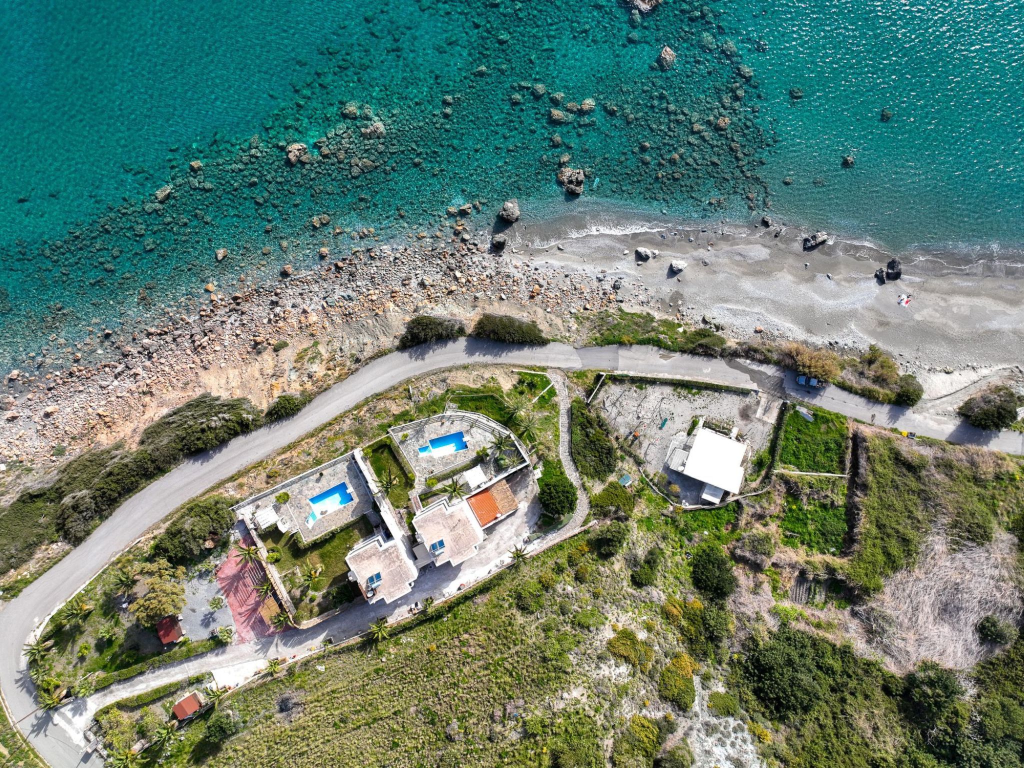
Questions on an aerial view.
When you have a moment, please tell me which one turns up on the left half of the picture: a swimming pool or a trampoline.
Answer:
swimming pool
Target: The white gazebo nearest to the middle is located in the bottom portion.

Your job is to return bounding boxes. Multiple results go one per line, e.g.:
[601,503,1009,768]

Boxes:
[463,464,488,490]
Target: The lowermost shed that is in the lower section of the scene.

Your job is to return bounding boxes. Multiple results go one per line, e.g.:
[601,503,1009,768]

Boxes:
[173,691,201,720]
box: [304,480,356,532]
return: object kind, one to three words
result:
swimming pool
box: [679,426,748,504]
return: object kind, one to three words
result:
house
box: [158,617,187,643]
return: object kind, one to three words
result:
shed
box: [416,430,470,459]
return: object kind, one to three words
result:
swimming pool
